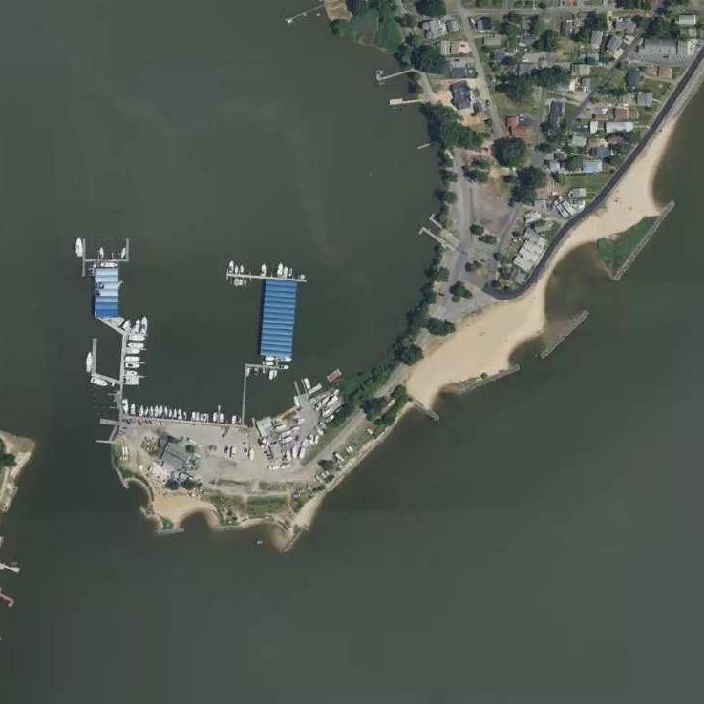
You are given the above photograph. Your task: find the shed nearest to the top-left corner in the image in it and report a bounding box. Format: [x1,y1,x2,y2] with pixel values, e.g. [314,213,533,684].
[94,267,119,317]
